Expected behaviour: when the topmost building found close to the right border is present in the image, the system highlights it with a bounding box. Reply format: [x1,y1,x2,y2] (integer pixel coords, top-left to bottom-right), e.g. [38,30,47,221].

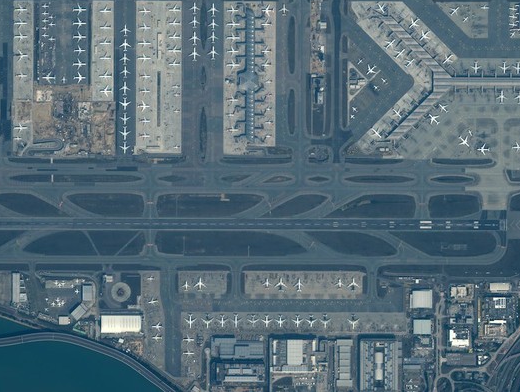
[380,11,520,138]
